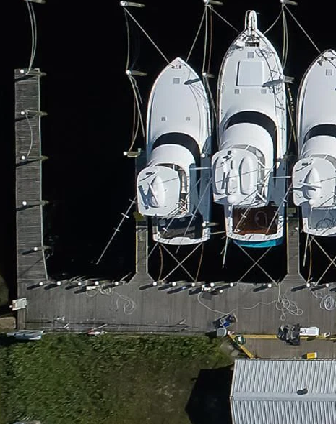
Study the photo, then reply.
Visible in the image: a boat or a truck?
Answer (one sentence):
The image shows a boat.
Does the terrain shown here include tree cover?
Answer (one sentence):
No, no tree cover is visible.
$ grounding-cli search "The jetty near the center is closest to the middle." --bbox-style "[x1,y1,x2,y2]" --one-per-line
[125,159,157,285]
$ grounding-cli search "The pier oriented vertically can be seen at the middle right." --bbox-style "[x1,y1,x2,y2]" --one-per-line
[278,159,308,283]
